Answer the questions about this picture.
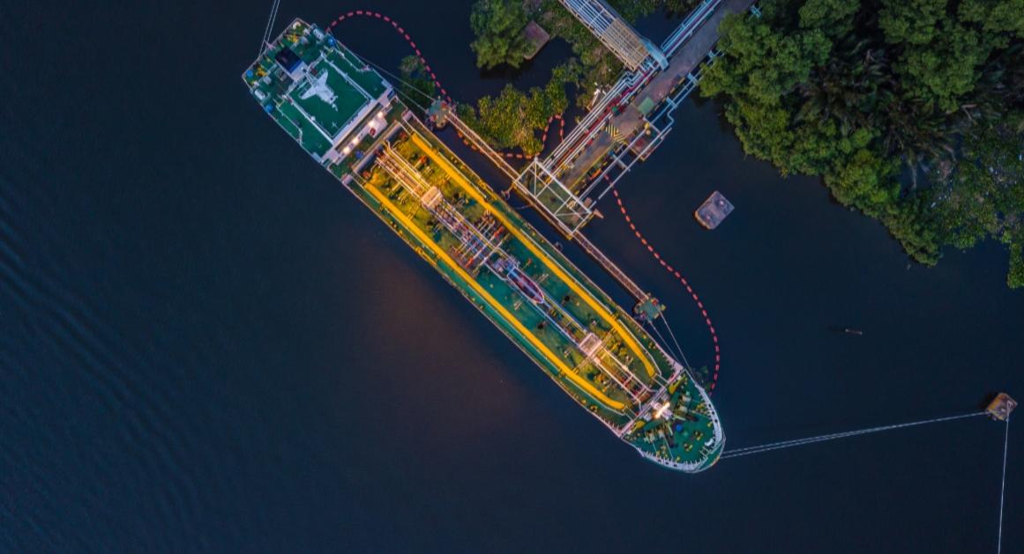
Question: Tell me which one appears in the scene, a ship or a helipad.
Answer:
ship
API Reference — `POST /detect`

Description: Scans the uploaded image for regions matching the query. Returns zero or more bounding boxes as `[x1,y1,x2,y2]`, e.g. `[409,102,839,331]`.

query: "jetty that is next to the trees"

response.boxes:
[556,0,767,195]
